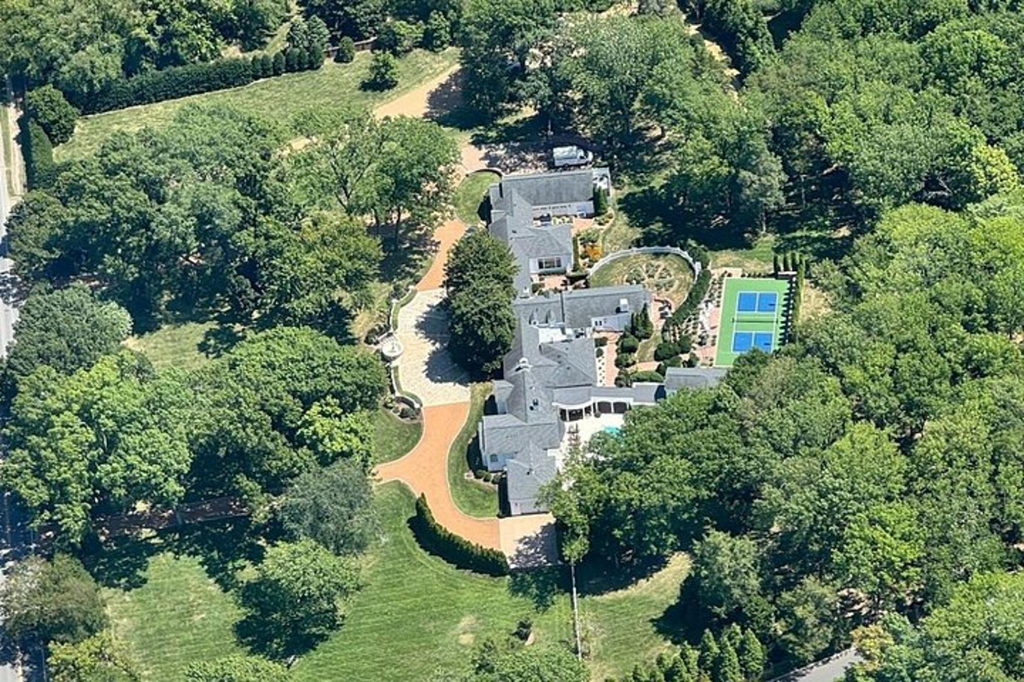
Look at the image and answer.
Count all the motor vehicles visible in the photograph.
1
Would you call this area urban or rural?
rural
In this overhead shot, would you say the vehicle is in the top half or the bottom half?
top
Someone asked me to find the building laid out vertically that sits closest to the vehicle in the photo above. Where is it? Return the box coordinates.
[478,169,650,513]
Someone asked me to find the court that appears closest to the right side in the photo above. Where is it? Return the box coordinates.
[714,278,797,368]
